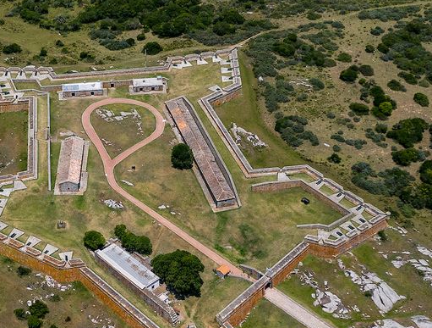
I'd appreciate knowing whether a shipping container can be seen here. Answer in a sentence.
No, the frame has no shipping container in it.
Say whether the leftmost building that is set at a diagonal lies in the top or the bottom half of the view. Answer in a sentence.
The bottom half of the photo is where the leftmost building that is set at a diagonal is.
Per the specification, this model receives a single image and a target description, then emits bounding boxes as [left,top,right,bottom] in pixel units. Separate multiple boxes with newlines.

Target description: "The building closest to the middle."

[165,98,236,207]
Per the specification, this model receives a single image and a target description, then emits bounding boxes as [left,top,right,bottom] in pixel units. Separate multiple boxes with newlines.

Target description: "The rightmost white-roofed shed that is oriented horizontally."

[131,77,165,92]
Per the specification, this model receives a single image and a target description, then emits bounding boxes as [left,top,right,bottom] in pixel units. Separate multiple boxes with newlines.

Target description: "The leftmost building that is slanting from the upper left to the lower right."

[96,243,157,290]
